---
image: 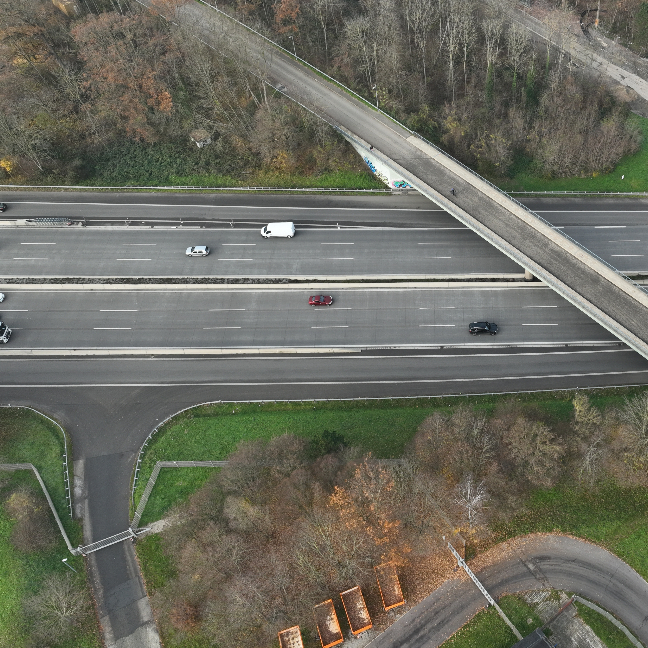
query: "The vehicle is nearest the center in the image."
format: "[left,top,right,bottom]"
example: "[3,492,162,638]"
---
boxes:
[306,295,333,308]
